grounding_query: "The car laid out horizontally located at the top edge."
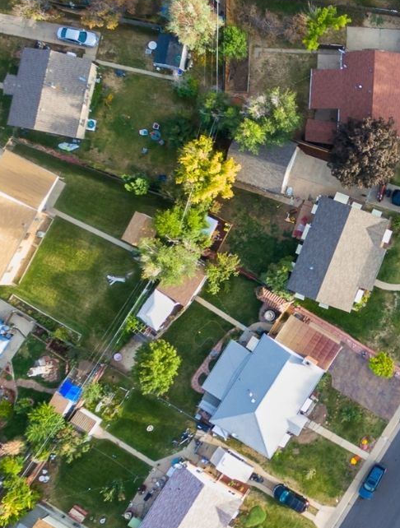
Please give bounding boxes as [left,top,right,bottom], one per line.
[56,24,100,47]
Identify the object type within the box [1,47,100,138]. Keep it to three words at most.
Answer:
house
